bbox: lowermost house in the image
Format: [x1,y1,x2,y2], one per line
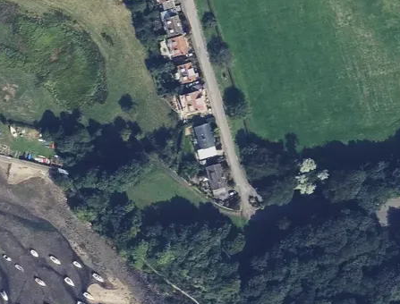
[203,162,226,197]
